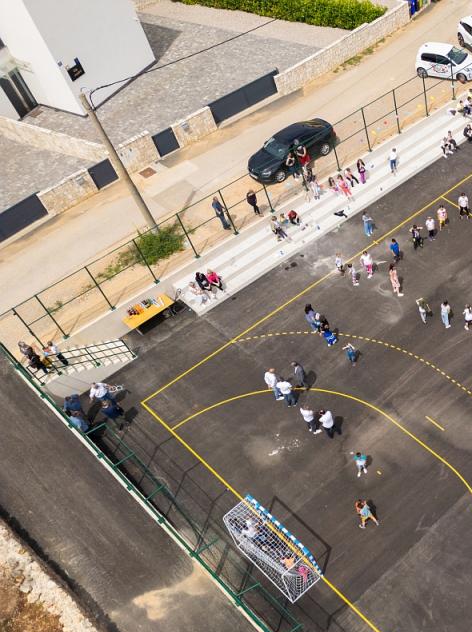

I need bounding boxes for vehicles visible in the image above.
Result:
[452,12,472,51]
[409,40,472,83]
[241,117,336,185]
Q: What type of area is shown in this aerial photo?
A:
sports ground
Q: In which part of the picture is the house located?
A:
top left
